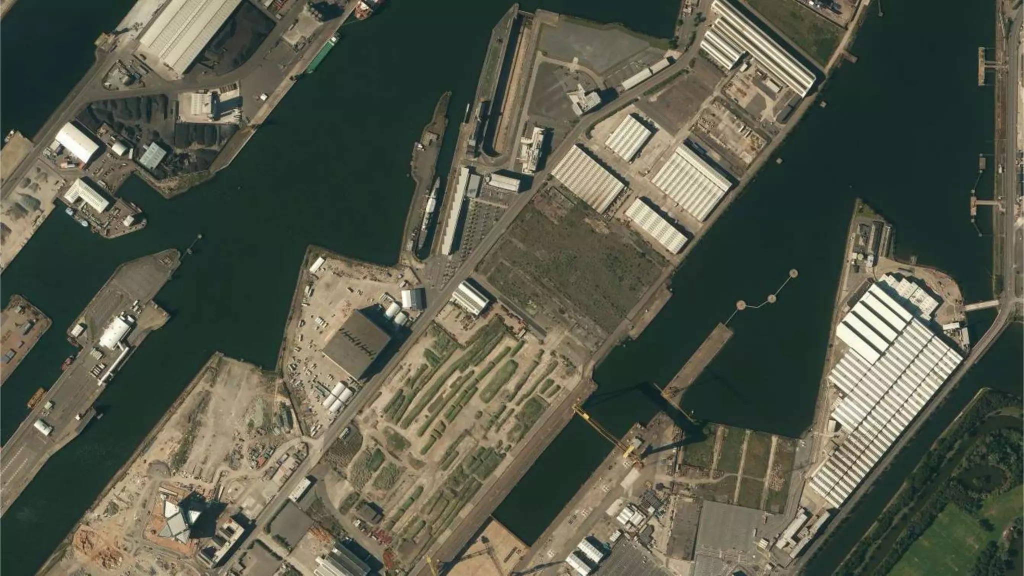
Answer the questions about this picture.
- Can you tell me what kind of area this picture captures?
port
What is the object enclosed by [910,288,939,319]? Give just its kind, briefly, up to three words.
building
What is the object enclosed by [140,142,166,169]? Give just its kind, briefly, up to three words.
building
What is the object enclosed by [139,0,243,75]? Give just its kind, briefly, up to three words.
shed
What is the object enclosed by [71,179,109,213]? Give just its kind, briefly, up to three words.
shed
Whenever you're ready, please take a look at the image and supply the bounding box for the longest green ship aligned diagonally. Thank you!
[306,33,339,74]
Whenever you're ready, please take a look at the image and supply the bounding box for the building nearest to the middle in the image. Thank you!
[453,280,489,316]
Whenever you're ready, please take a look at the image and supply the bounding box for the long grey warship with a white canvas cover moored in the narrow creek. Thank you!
[417,177,439,248]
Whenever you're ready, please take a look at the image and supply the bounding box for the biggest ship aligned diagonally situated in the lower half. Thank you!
[27,388,46,408]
